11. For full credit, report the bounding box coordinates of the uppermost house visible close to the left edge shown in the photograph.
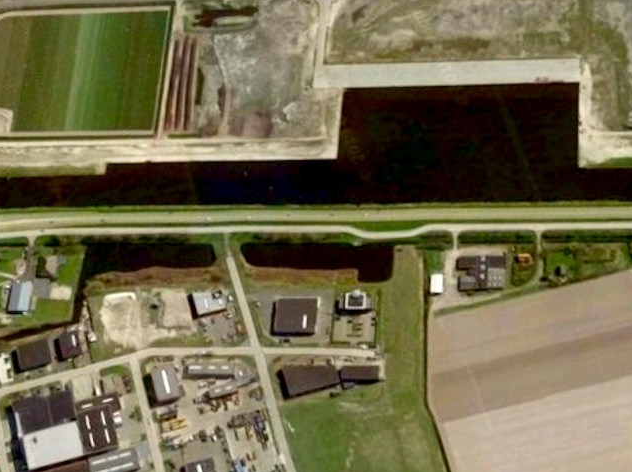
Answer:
[6,281,33,312]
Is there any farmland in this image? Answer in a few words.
Yes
